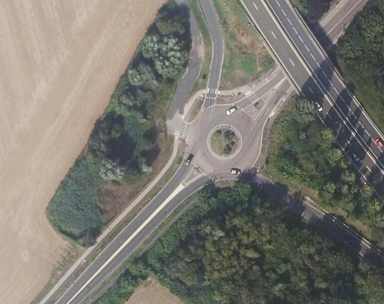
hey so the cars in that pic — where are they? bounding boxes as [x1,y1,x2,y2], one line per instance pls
[184,154,194,165]
[350,152,360,162]
[374,138,384,148]
[226,106,236,115]
[314,102,322,112]
[229,168,240,174]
